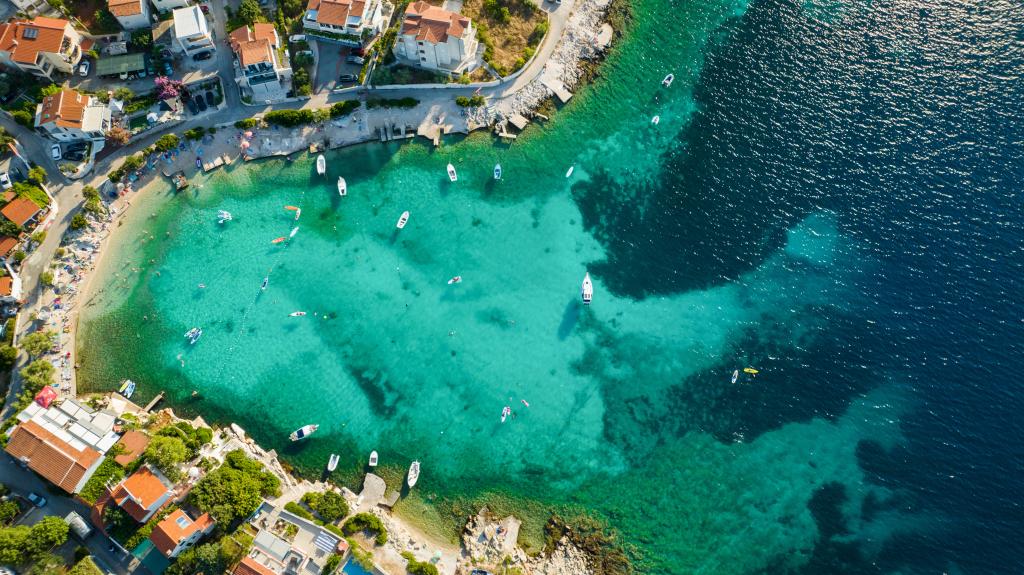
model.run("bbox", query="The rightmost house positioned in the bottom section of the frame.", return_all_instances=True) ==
[229,522,349,575]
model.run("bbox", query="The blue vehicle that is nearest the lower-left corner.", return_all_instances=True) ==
[25,491,48,508]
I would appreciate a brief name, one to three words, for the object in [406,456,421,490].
boat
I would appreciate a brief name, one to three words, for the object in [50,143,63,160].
vehicle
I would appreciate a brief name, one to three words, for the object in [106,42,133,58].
shed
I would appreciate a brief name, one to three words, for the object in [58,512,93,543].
truck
